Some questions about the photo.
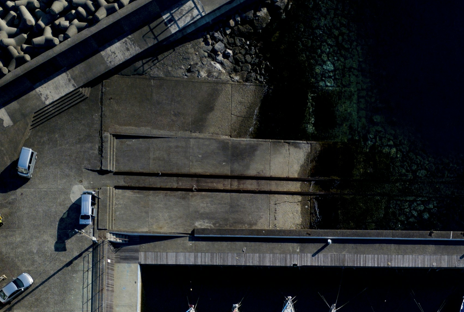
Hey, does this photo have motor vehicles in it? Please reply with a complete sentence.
Yes, the frame does contain a motor vehicle.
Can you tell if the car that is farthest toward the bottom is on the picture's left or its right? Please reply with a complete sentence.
You can find the car that is farthest toward the bottom on the left side of the picture.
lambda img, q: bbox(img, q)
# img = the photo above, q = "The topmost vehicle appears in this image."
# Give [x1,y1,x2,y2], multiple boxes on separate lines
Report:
[16,144,37,177]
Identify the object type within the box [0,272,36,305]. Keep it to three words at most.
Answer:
car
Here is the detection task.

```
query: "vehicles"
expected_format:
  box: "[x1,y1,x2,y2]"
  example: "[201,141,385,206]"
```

[16,144,37,177]
[76,190,100,225]
[0,272,36,305]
